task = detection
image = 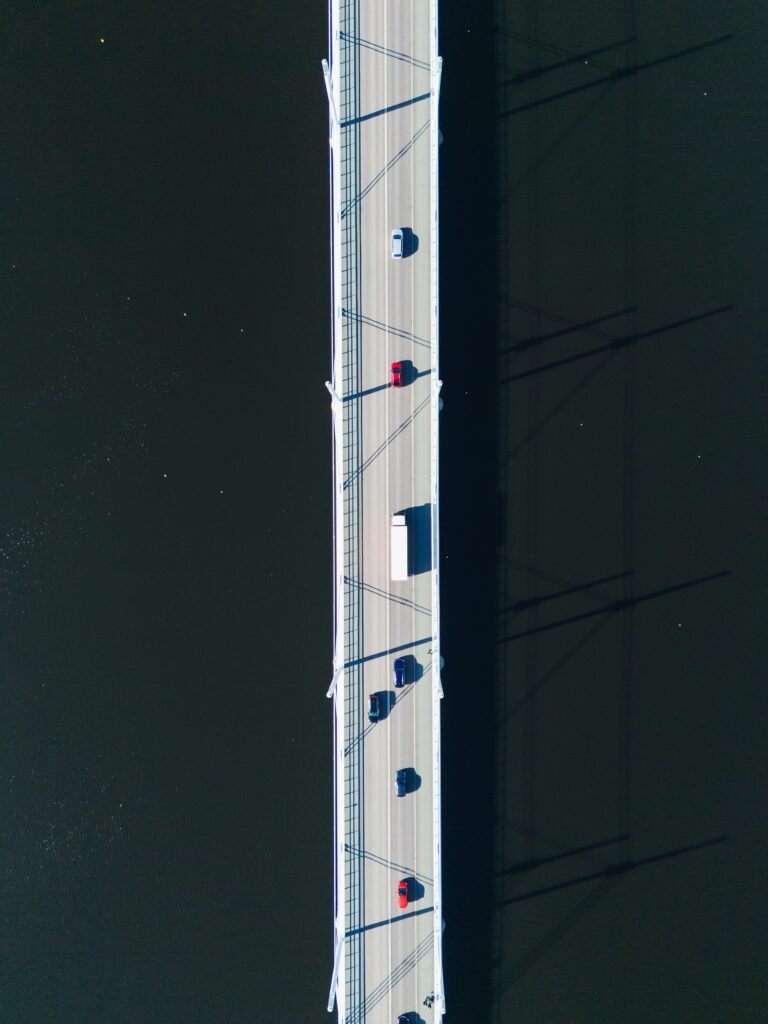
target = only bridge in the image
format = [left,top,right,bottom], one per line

[323,0,445,1024]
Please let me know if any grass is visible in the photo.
No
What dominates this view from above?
water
